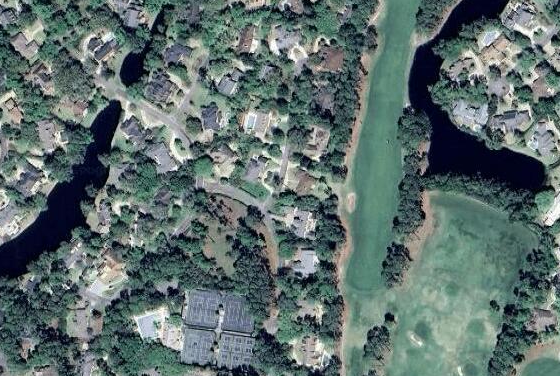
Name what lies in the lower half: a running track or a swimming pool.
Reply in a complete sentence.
There is a swimming pool in the lower half.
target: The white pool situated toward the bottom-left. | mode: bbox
[134,307,169,343]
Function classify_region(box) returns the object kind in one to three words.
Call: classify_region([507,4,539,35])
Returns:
house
